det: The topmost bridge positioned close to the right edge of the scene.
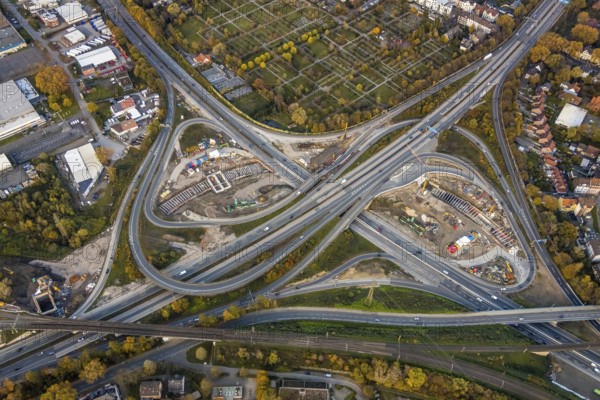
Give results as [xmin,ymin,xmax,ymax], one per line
[478,303,600,327]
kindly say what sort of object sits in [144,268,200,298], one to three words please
bridge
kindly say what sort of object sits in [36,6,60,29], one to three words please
building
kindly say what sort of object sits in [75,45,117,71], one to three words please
building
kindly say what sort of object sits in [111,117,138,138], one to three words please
house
